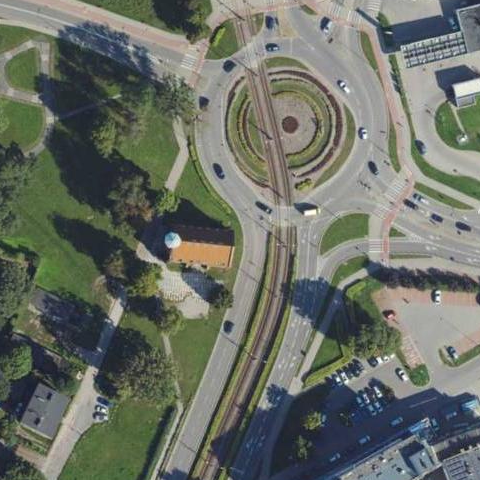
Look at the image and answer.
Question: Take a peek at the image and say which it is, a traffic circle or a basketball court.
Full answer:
Of the two, only a traffic circle appears.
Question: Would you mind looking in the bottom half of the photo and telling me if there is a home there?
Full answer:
Yes, the scene does show a home in the bottom half of the photo.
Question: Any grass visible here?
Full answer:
Yes, there's grass in this view.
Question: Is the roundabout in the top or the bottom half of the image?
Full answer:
It is in the top half that the roundabout appears.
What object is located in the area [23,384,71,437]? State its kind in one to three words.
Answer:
house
